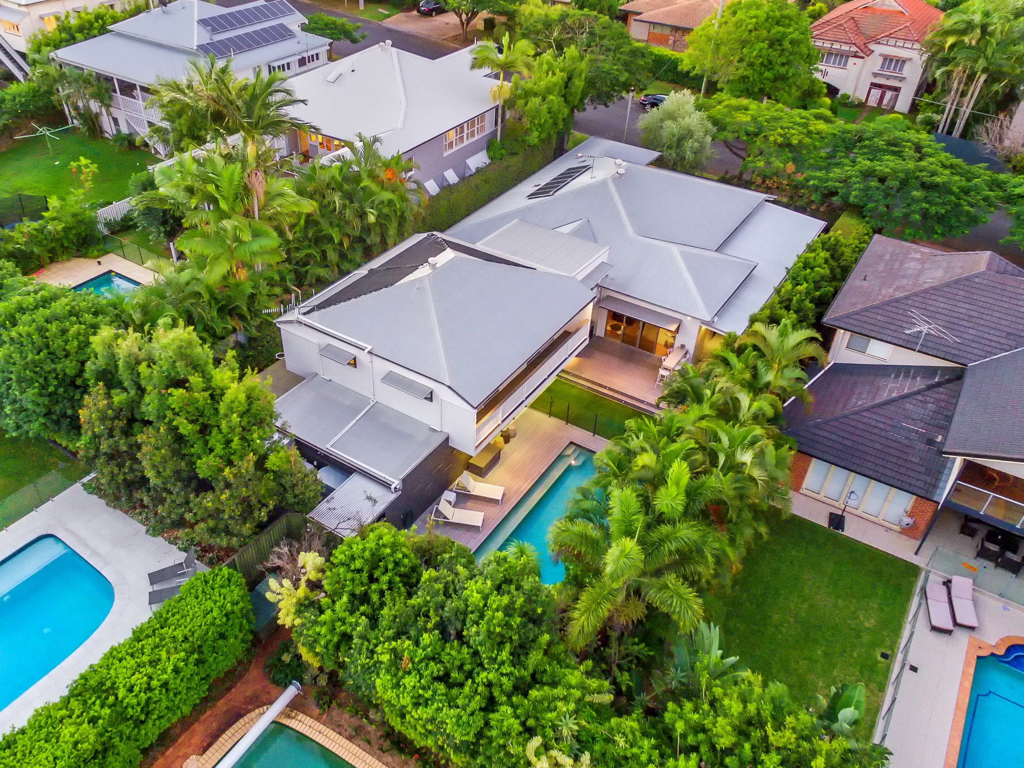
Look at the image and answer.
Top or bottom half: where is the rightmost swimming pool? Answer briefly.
bottom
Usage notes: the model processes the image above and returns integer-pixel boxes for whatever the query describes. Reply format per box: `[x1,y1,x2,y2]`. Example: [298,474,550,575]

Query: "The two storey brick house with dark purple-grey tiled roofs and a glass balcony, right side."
[772,221,1024,555]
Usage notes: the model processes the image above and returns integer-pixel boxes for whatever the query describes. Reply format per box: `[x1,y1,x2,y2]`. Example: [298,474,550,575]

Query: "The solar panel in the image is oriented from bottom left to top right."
[527,163,592,197]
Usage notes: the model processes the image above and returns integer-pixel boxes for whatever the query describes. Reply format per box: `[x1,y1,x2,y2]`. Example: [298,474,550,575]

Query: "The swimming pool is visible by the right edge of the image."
[942,635,1024,768]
